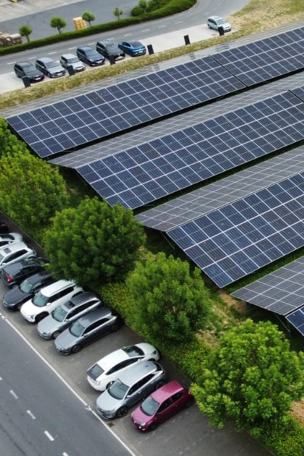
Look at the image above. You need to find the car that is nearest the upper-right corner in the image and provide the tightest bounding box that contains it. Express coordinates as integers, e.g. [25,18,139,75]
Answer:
[204,13,228,29]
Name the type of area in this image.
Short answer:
solar farm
